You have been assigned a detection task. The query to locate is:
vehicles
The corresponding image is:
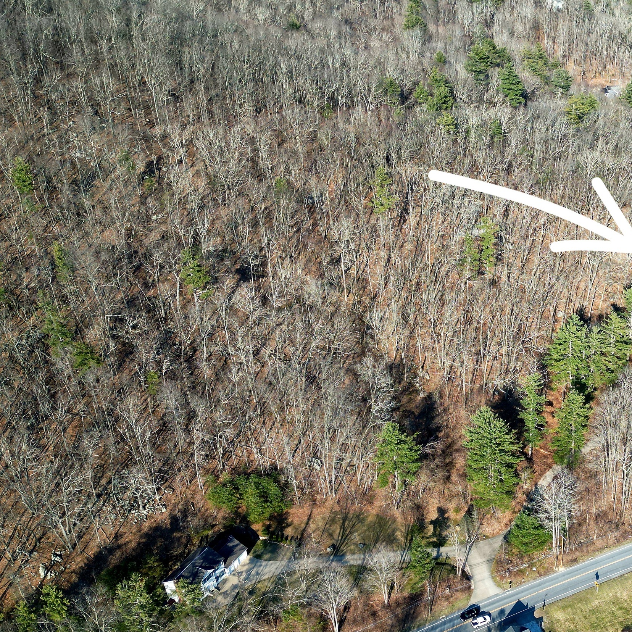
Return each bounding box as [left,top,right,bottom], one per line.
[468,611,492,627]
[455,605,476,619]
